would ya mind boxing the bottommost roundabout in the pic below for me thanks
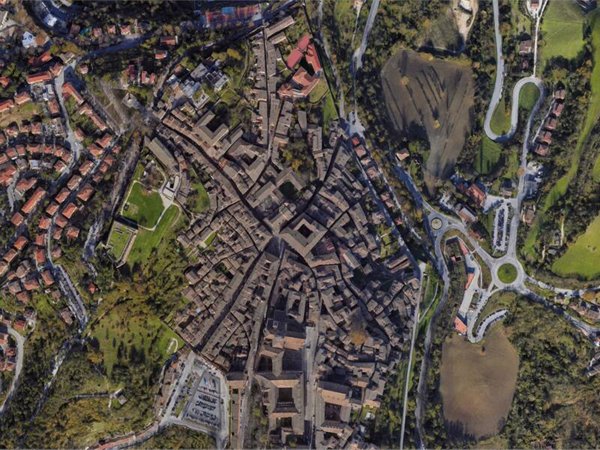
[492,257,524,289]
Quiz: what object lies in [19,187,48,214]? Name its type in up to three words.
house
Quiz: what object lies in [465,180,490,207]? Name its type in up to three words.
house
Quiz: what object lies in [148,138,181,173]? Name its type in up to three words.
building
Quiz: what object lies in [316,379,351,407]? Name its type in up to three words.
building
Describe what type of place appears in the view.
residential area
